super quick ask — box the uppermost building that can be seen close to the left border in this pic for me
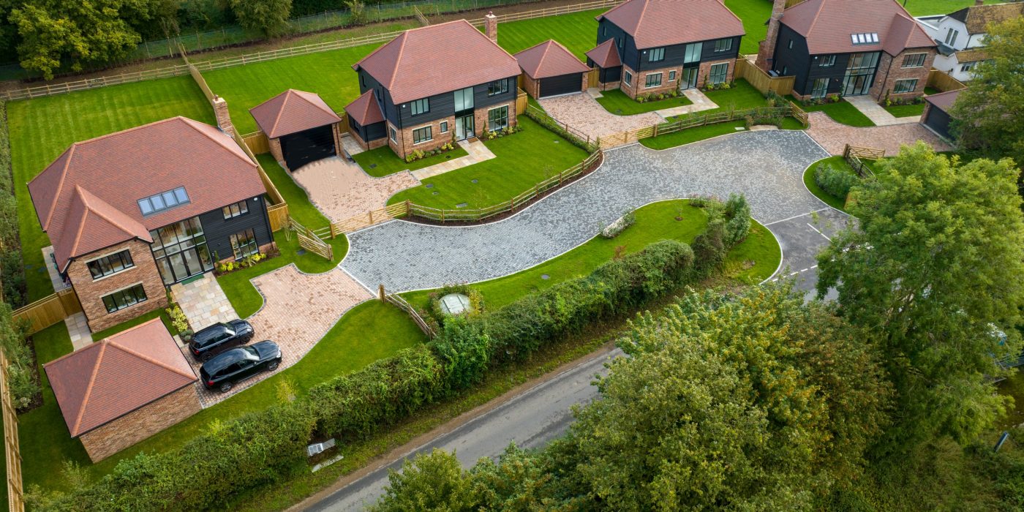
[25,92,275,332]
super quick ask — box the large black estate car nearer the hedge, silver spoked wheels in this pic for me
[197,340,283,395]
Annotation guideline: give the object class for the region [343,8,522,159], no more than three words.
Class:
house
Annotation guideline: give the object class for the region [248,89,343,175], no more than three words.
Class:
building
